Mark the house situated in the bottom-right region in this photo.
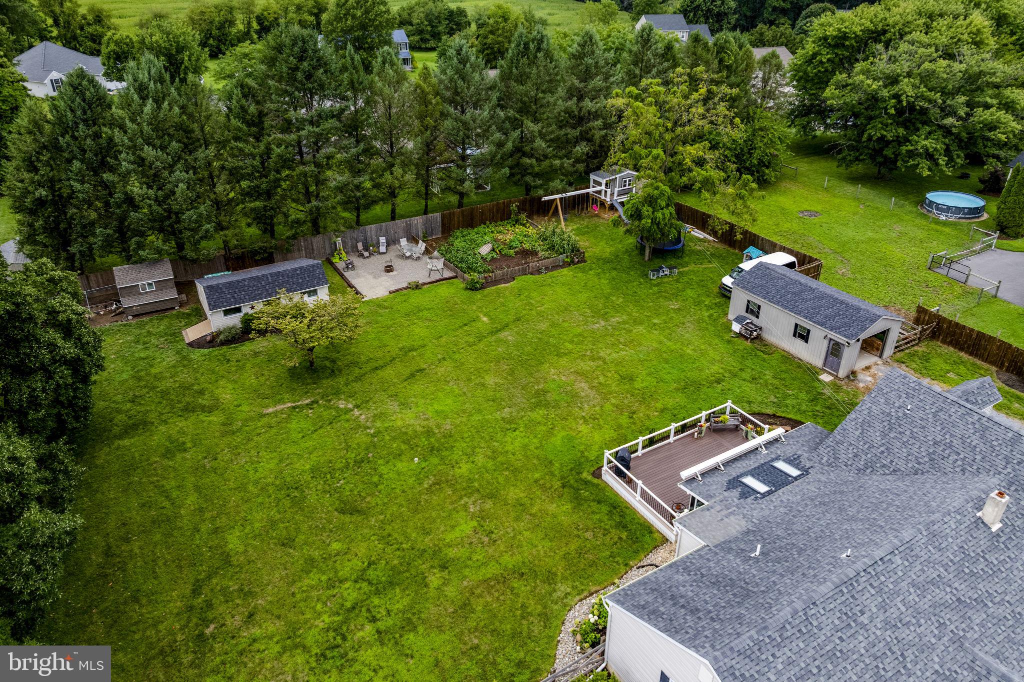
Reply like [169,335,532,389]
[584,367,1024,682]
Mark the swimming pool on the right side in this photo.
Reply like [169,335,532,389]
[916,190,989,226]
